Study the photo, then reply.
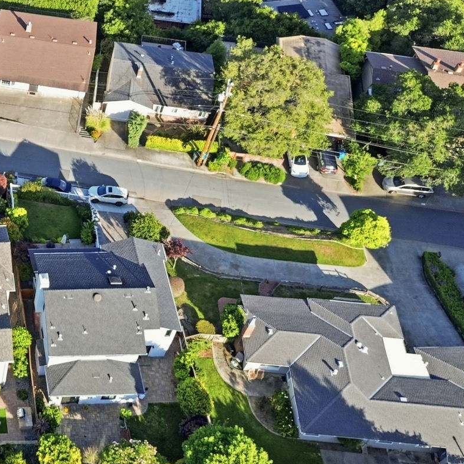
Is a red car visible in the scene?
No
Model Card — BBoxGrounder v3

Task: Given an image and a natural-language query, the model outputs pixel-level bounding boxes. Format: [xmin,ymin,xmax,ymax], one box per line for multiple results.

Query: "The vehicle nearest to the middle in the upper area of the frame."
[289,148,309,176]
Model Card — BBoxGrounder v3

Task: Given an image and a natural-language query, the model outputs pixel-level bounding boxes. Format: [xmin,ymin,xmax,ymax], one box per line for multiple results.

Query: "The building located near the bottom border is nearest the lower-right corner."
[235,295,464,464]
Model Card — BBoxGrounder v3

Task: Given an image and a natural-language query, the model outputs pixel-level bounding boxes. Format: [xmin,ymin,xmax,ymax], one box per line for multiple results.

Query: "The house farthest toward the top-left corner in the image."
[0,9,97,106]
